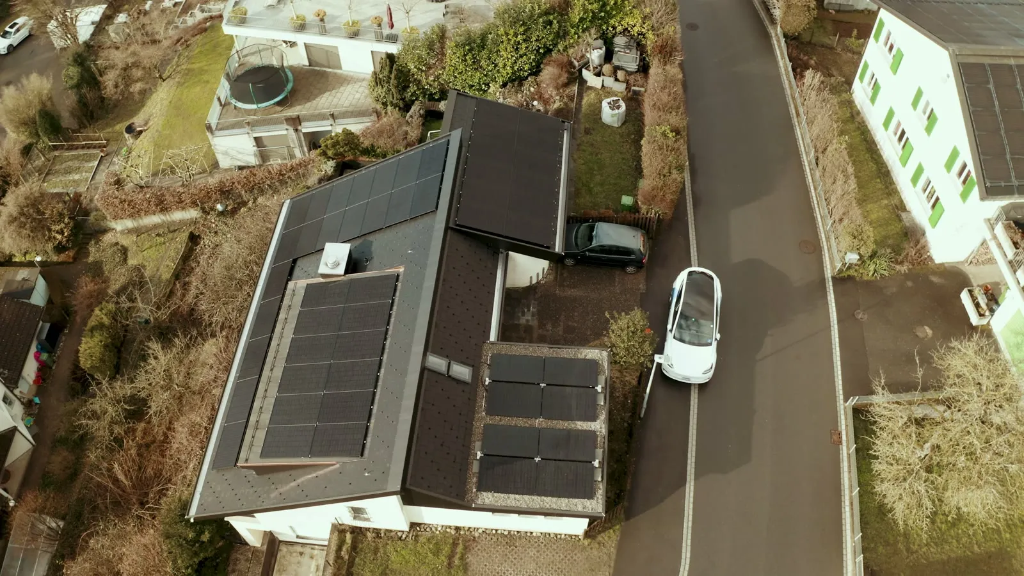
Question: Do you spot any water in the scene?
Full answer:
No, the scene doesn't show any water.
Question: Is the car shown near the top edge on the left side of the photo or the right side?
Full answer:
You can find the car shown near the top edge on the left side of the picture.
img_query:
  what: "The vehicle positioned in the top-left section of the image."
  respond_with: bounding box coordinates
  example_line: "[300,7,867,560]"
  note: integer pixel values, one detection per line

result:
[0,17,35,58]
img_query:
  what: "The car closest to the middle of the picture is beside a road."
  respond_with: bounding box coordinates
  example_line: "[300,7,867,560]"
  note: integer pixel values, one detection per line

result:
[549,224,648,277]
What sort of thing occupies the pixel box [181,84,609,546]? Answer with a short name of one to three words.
house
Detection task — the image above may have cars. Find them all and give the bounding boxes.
[549,224,648,277]
[660,269,722,386]
[0,17,35,58]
